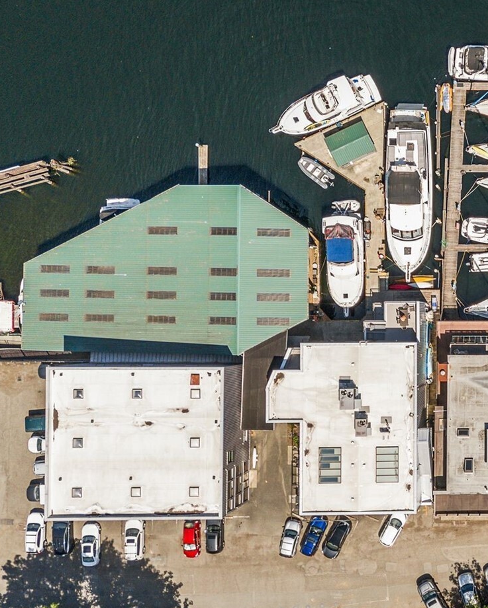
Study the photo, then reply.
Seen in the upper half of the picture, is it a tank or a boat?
boat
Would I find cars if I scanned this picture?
Yes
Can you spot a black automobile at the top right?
No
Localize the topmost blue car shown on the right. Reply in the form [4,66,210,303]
[299,515,328,558]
